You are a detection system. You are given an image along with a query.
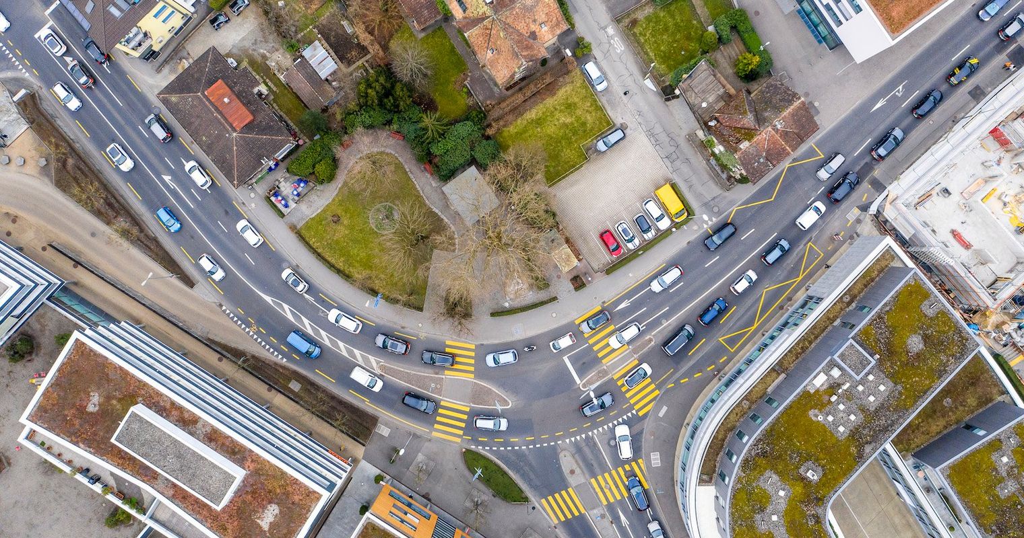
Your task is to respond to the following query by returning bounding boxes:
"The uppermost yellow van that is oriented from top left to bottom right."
[657,184,685,220]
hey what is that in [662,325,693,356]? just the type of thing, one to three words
car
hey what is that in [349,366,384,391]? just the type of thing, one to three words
vehicle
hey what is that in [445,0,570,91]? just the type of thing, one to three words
house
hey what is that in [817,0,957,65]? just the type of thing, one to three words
building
